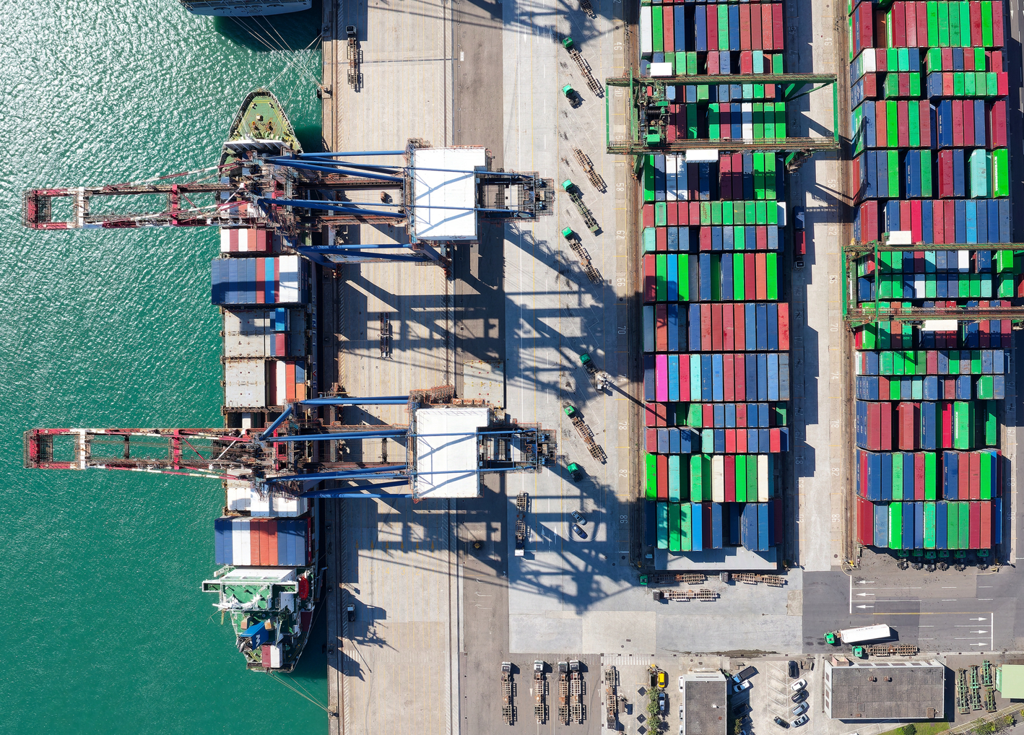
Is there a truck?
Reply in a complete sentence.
Yes, a truck can be made out from above.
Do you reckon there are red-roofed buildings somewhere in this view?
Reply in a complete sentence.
No, I can't see a single red-roofed building in this photo.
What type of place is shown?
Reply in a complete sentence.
It's a port.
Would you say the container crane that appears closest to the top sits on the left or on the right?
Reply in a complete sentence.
The container crane that appears closest to the top sits on the right side.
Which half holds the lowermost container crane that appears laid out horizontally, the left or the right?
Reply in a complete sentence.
The lowermost container crane that appears laid out horizontally sits on the left side.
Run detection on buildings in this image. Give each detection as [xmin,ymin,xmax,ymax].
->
[654,545,777,569]
[992,661,1024,699]
[822,650,945,718]
[679,666,727,735]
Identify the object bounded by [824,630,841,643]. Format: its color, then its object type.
green vehicle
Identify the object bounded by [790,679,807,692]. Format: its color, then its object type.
white vehicle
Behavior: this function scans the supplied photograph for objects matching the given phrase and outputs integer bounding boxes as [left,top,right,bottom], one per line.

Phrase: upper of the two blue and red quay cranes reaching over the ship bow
[12,123,559,282]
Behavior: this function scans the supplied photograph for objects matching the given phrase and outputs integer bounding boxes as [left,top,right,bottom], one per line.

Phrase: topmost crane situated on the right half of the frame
[607,61,838,171]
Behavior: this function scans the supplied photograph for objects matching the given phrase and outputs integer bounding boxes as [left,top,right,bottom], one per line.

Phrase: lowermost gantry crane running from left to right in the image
[15,367,561,508]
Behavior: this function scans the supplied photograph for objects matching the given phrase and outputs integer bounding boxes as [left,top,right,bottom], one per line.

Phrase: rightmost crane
[841,230,1024,331]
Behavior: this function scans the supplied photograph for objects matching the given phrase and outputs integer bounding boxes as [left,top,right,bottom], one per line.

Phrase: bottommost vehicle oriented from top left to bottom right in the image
[774,715,790,730]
